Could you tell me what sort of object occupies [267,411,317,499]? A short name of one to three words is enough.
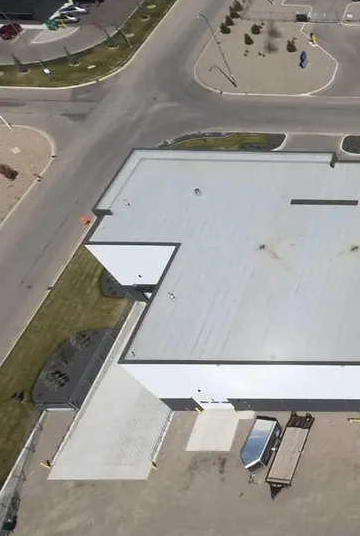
trailer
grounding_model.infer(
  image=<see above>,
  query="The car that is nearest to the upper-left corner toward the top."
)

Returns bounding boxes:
[0,22,25,38]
